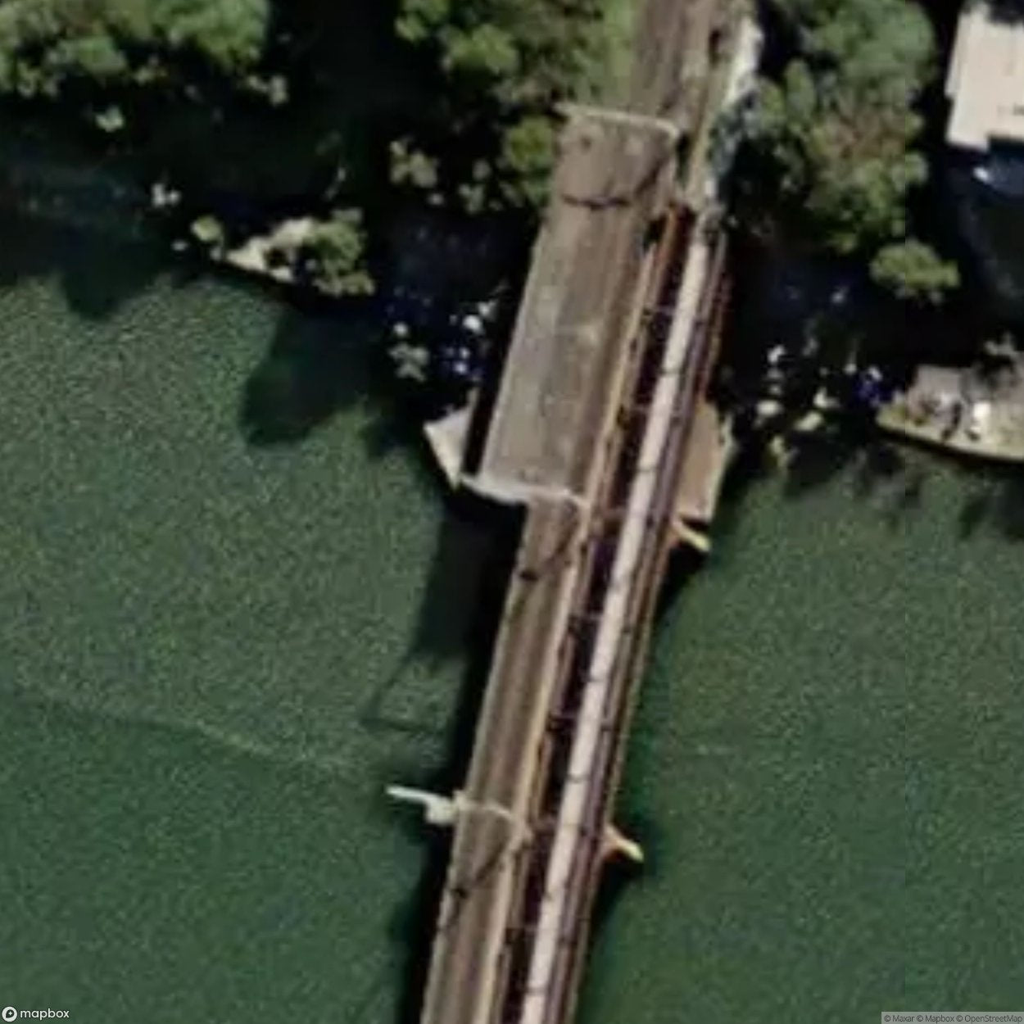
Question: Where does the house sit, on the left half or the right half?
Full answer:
The house is on the right side of the image.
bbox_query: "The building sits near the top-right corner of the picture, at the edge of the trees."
[945,3,1024,162]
